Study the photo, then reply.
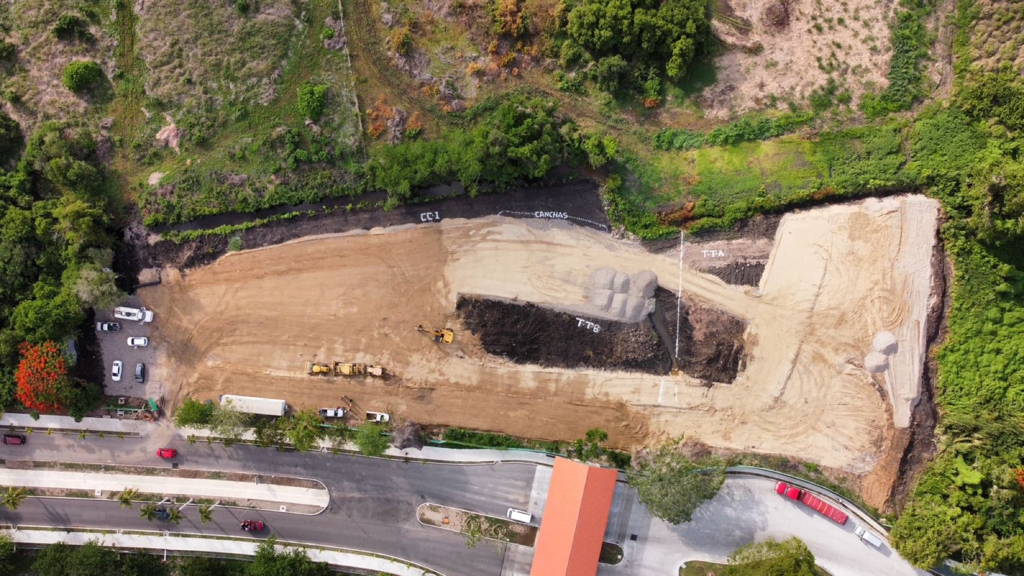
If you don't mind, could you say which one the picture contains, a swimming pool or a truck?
truck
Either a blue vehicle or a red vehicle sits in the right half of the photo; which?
red vehicle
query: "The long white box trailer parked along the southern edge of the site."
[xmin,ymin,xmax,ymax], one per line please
[221,393,293,415]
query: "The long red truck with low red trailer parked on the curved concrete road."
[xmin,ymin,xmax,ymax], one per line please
[773,480,849,525]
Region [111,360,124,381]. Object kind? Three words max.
vehicle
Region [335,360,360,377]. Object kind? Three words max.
work vehicle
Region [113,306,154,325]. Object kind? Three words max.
vehicle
